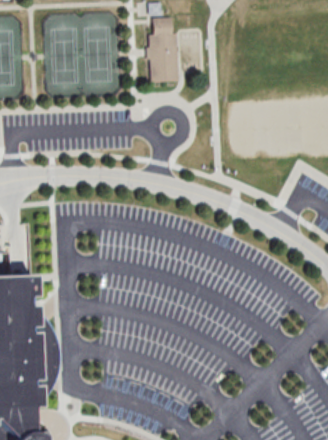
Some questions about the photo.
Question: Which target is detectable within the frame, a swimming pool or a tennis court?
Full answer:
Looking from above, you can make out a tennis court.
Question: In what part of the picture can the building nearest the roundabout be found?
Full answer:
You can find the building nearest the roundabout in the top area of the picture.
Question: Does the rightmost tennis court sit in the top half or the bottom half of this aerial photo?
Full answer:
You can find the rightmost tennis court in the top half.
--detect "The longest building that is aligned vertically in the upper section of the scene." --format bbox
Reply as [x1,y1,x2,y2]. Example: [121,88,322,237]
[146,18,179,83]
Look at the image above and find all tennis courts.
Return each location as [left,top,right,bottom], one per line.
[0,14,22,98]
[44,14,82,94]
[80,12,118,94]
